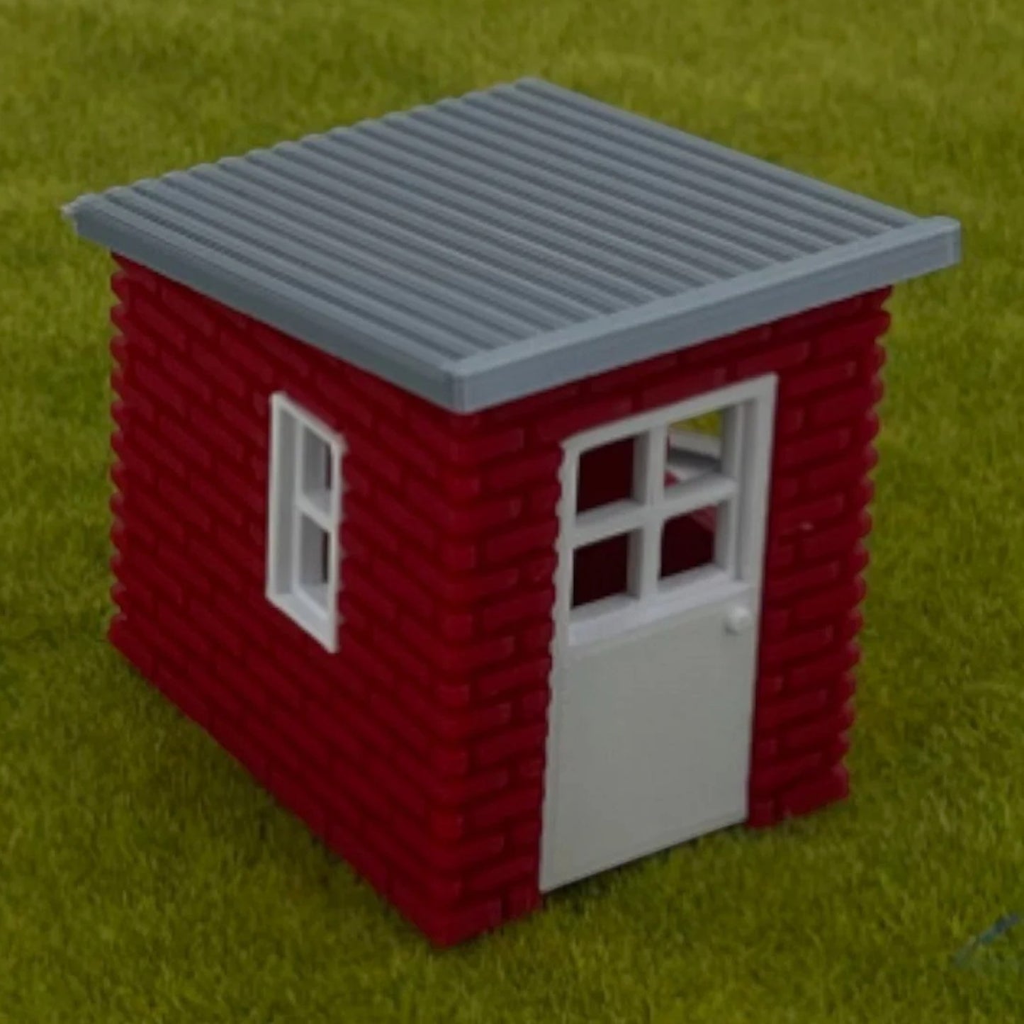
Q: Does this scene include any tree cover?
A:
No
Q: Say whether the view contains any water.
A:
No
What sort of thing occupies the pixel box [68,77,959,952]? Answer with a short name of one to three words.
shed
